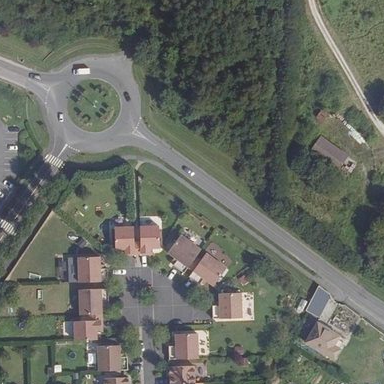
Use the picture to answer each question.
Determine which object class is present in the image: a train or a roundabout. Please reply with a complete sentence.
This aerial view contains a roundabout.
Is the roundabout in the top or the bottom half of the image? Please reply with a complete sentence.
The roundabout is in the top half of the image.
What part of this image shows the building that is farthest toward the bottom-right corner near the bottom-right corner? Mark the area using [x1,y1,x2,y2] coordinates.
[308,322,354,358]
